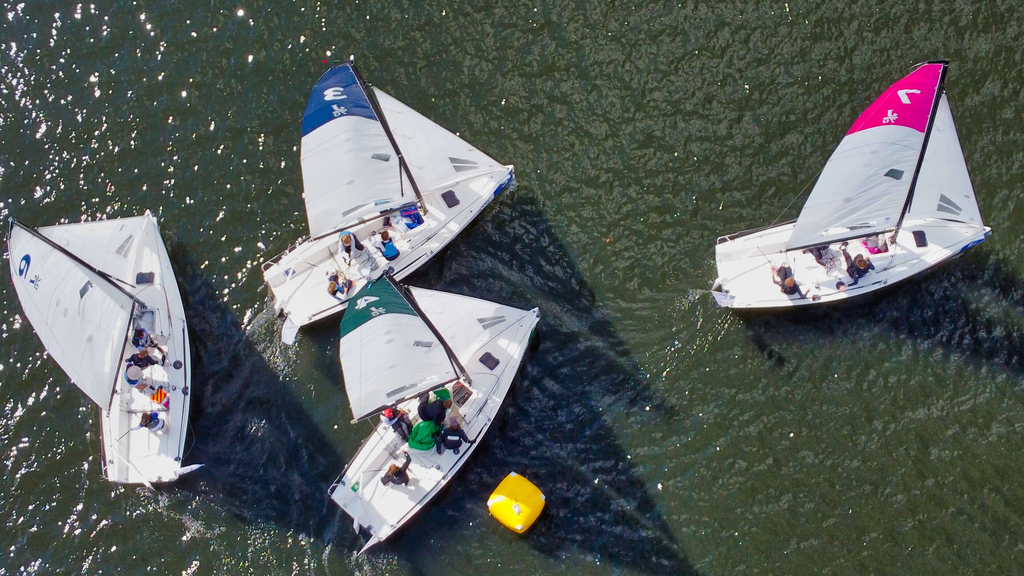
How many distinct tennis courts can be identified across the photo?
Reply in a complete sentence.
The photo contains no tennis courts.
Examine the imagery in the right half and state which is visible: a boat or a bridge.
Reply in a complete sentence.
It is a boat that can be seen in the right half.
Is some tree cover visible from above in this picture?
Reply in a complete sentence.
No, the scene doesn't show any tree cover.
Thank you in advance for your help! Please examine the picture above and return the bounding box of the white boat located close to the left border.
[1,211,204,496]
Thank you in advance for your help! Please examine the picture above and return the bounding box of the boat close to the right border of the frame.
[711,57,994,310]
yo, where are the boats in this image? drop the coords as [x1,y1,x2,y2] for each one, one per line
[1,211,204,496]
[263,55,520,343]
[325,267,547,557]
[711,57,994,310]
